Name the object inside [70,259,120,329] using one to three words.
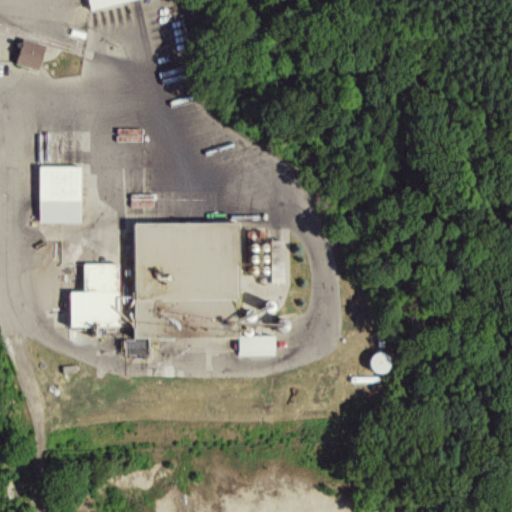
building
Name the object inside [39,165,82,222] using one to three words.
shed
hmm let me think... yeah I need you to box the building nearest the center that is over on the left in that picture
[134,222,240,338]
